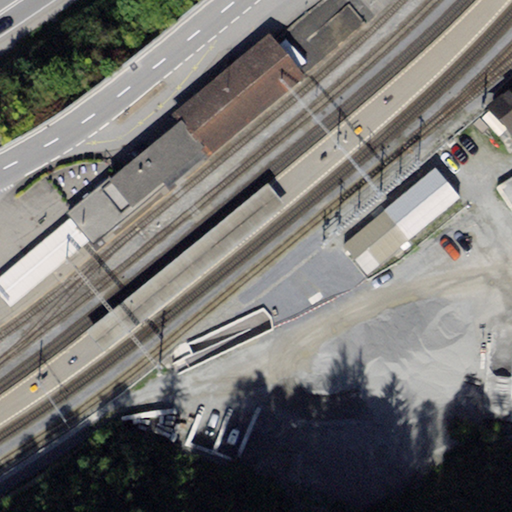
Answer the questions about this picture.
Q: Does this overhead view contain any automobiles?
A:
Yes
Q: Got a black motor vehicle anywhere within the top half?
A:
Yes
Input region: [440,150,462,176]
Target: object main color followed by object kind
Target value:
white car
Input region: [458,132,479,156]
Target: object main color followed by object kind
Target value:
black car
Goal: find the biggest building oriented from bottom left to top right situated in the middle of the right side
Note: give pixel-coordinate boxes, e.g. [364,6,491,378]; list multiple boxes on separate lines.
[346,168,460,278]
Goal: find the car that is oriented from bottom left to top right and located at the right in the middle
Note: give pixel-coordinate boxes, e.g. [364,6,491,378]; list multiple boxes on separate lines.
[370,269,394,288]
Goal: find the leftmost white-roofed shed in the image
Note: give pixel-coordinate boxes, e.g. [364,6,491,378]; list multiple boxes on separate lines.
[0,218,88,306]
